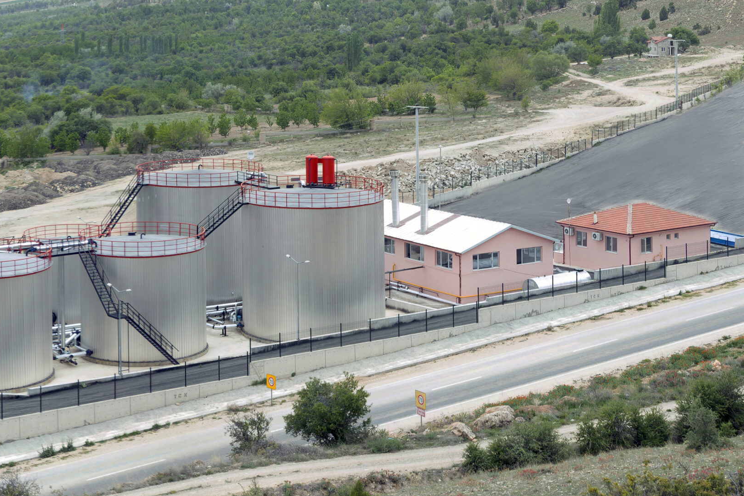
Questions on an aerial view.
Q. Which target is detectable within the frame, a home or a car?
home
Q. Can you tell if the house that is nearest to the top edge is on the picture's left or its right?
right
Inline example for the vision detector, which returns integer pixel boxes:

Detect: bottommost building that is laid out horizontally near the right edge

[559,198,715,271]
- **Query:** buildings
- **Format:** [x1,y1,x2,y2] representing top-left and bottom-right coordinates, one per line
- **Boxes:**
[383,166,563,304]
[559,198,715,271]
[646,30,679,56]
